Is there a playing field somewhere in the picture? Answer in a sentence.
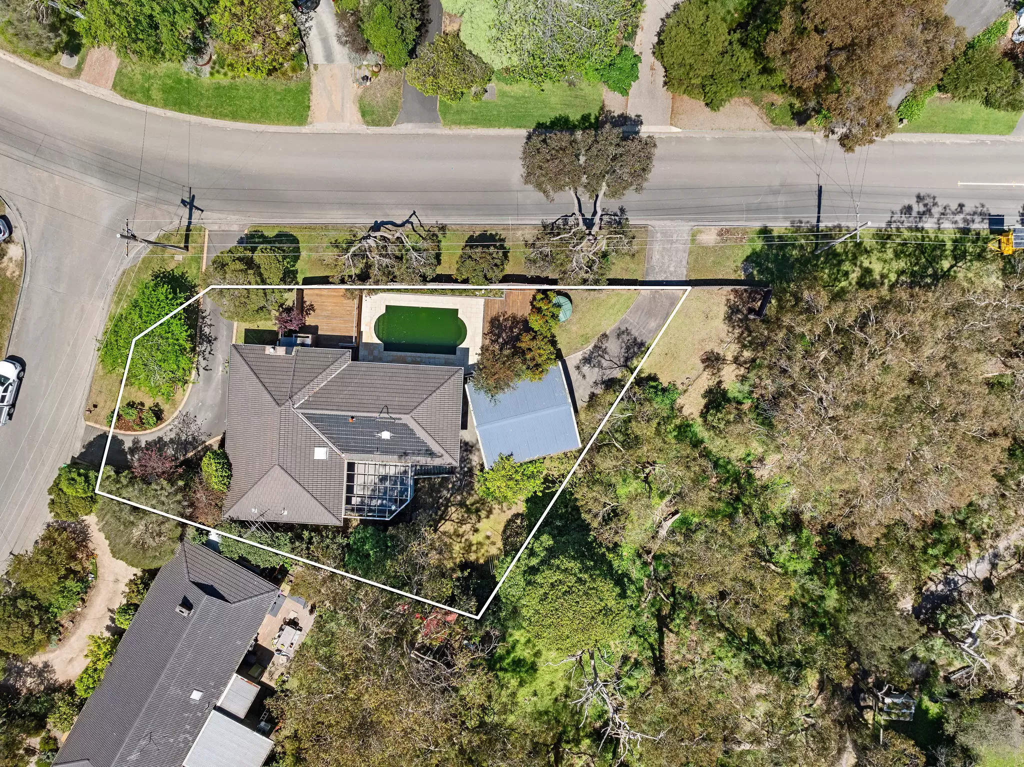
No, the picture doesn't show any playing field.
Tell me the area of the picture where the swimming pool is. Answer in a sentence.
The swimming pool sits in the center section of the image.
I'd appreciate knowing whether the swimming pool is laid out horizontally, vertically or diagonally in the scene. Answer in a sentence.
What the image shows is the swimming pool lying horizontally.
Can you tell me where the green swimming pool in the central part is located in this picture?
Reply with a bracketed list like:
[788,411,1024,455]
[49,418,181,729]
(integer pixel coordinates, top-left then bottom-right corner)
[373,304,467,355]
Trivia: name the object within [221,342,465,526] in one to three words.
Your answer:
house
